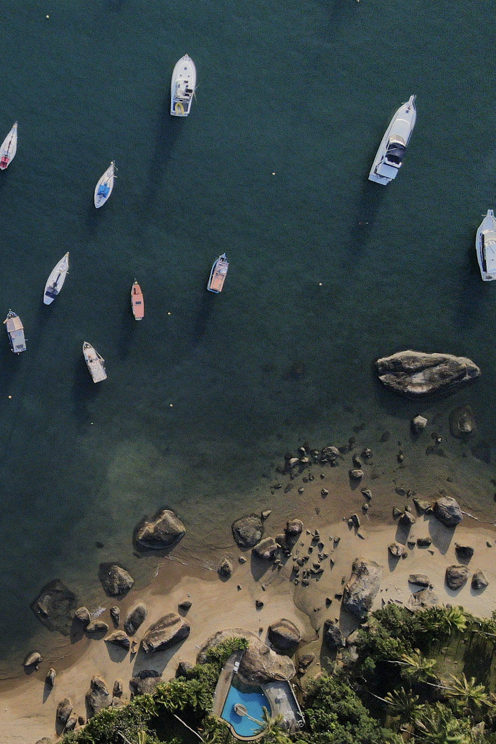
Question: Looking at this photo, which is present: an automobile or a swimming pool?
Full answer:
The image shows a swimming pool.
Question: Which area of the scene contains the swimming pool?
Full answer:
The swimming pool appears toward the bottom of the photo.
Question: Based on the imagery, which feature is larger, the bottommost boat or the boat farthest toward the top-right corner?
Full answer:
The larger object is the boat farthest toward the top-right corner, with the bottommost boat being the smaller of the pair.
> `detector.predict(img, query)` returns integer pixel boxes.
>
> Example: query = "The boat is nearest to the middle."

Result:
[206,253,232,294]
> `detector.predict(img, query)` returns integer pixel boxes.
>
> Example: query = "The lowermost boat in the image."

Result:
[83,343,107,383]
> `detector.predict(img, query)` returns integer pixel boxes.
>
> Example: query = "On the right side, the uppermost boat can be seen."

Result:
[362,92,418,191]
